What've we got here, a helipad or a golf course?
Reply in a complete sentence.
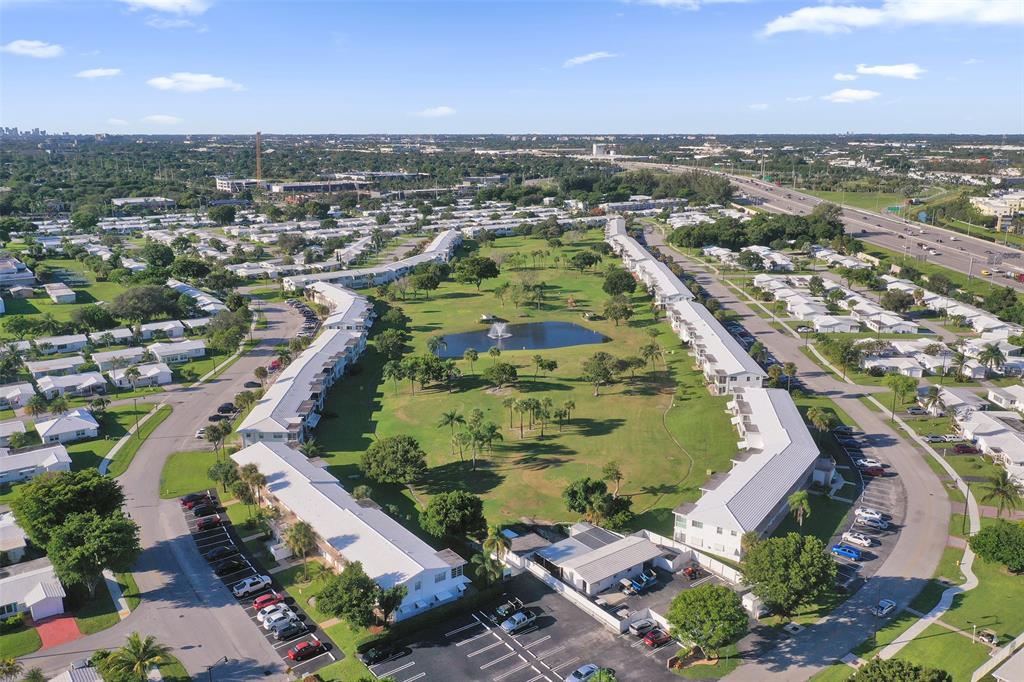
The one in the frame is a golf course.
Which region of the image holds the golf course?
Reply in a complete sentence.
The golf course is located in the center region of the scene.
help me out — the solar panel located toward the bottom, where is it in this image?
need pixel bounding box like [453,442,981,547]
[574,527,620,548]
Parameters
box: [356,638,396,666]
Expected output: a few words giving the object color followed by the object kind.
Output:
black car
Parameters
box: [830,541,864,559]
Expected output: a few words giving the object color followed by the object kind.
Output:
blue car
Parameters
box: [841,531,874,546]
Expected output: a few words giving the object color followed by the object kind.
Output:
white car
